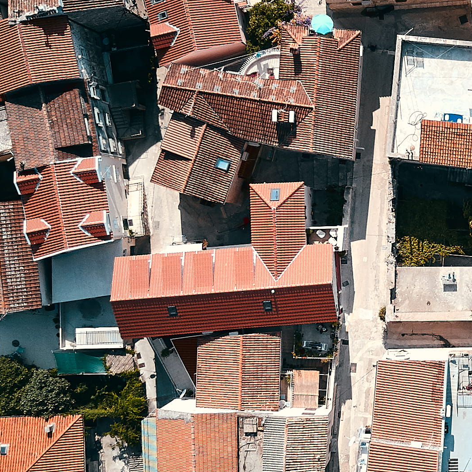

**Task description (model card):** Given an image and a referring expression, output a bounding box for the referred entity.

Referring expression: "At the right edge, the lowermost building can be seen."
[367,350,451,472]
